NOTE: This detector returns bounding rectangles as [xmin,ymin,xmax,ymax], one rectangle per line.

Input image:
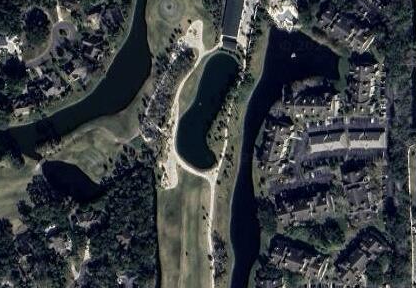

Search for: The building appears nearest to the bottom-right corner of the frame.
[335,239,392,288]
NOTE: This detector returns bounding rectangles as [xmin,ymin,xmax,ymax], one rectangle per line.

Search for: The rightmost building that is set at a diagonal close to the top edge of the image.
[316,4,377,56]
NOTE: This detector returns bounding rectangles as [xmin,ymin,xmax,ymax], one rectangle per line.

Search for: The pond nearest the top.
[177,51,237,168]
